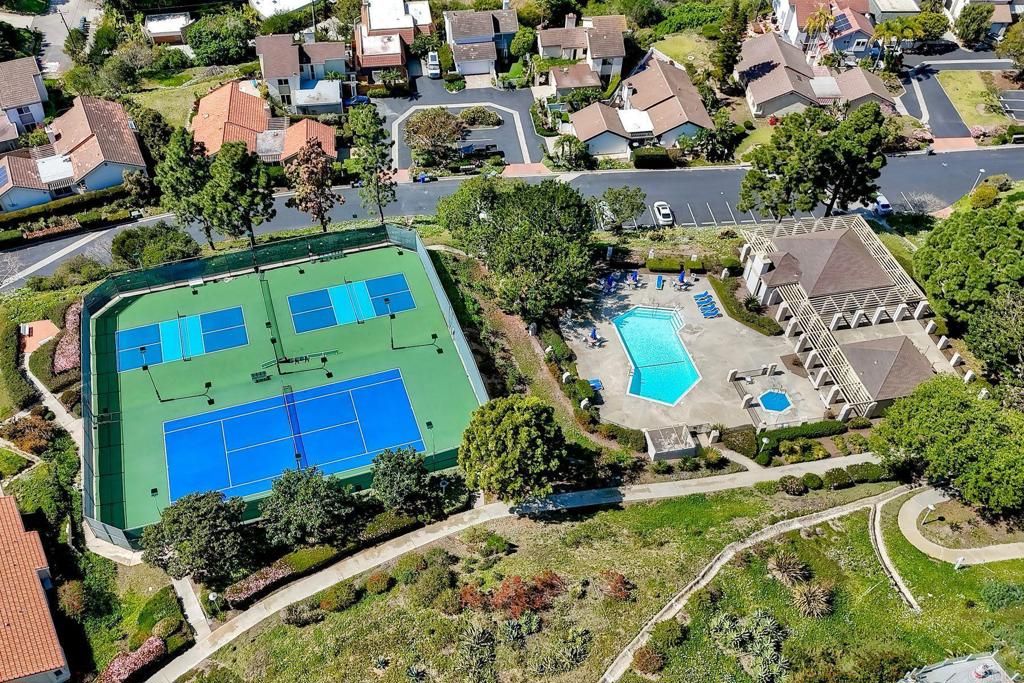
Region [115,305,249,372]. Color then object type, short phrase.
blue sports court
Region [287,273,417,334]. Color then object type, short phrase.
blue sports court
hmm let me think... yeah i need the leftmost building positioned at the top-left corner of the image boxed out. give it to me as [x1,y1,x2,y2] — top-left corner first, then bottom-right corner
[0,56,57,157]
